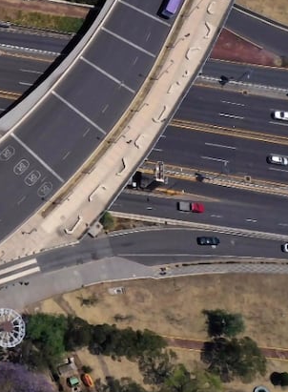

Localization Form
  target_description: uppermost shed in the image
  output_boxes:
[54,351,81,378]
